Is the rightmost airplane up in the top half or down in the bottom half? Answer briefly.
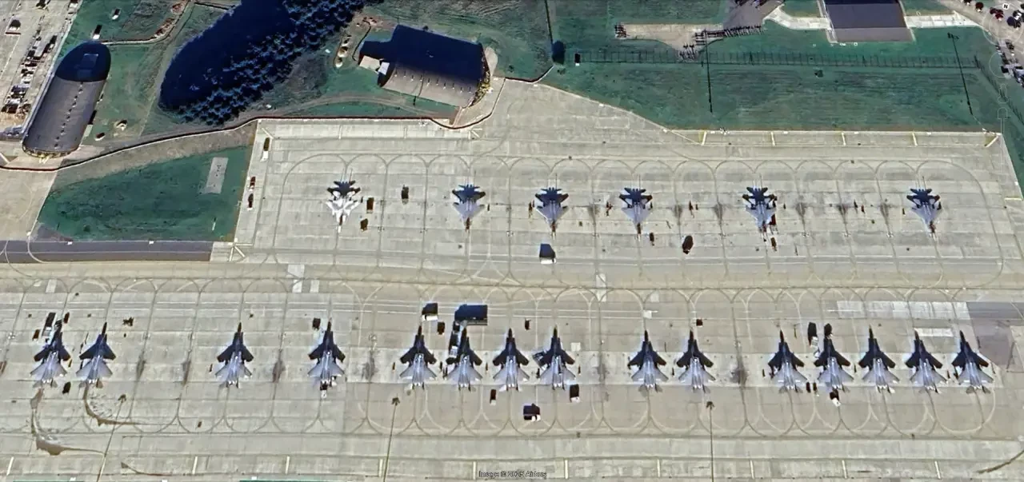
bottom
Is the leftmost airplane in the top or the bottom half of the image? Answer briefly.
bottom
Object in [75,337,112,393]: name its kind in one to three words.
airplane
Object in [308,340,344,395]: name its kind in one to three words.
airplane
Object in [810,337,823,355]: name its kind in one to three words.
vehicle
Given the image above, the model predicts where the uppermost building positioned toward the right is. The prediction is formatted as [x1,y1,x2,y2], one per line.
[829,0,914,43]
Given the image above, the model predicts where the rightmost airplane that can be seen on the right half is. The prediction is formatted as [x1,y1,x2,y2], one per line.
[958,346,994,402]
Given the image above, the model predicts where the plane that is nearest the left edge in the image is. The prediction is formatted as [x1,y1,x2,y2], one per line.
[29,336,66,393]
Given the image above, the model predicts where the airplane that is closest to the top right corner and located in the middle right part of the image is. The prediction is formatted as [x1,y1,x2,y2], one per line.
[910,190,944,242]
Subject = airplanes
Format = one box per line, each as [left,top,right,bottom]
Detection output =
[535,188,569,239]
[29,336,66,393]
[771,345,807,401]
[539,344,576,399]
[452,188,485,237]
[911,346,947,402]
[958,346,994,402]
[744,191,777,240]
[632,344,669,400]
[308,340,344,395]
[680,345,716,400]
[620,192,654,241]
[863,345,900,401]
[818,343,855,400]
[75,337,112,393]
[327,183,360,234]
[910,190,944,242]
[446,342,483,398]
[493,343,529,399]
[400,341,436,397]
[215,340,251,395]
